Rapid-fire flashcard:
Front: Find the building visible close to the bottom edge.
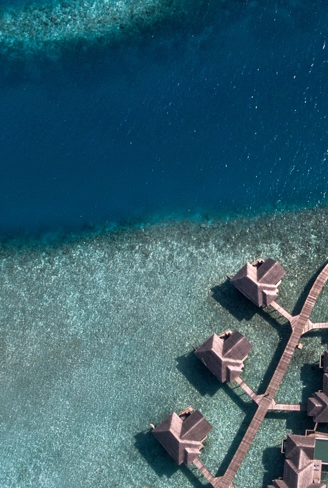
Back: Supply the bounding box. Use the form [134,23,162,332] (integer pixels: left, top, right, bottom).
[152,404,214,472]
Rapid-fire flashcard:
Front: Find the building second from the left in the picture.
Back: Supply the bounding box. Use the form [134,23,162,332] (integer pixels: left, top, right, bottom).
[192,326,254,390]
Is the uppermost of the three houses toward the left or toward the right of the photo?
right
